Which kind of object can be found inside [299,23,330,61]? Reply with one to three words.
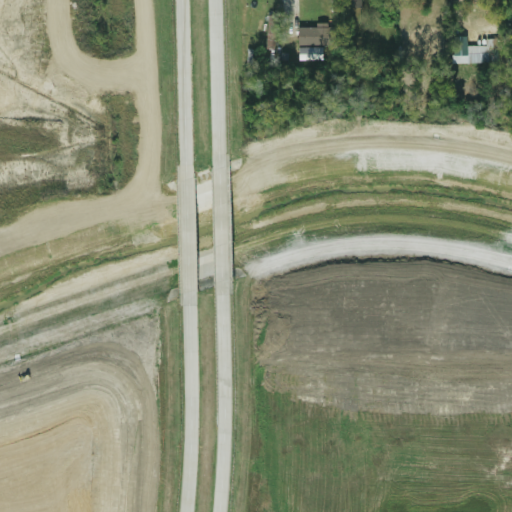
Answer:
house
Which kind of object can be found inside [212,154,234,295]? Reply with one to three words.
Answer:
bridge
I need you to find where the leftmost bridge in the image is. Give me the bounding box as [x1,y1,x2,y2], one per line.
[178,166,199,306]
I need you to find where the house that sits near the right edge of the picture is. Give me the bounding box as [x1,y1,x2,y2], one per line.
[453,36,498,64]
